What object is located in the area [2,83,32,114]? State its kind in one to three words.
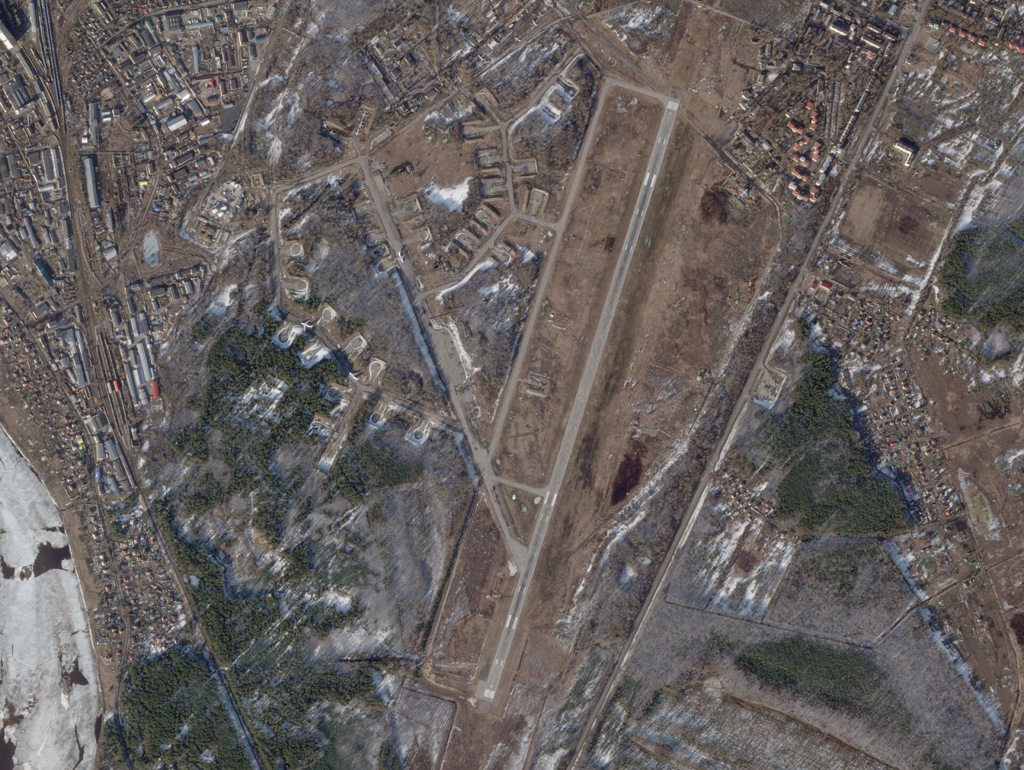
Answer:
building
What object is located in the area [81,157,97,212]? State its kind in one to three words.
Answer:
building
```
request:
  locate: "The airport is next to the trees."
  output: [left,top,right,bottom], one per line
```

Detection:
[272,45,681,713]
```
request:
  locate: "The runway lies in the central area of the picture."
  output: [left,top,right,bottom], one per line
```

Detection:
[482,94,681,705]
